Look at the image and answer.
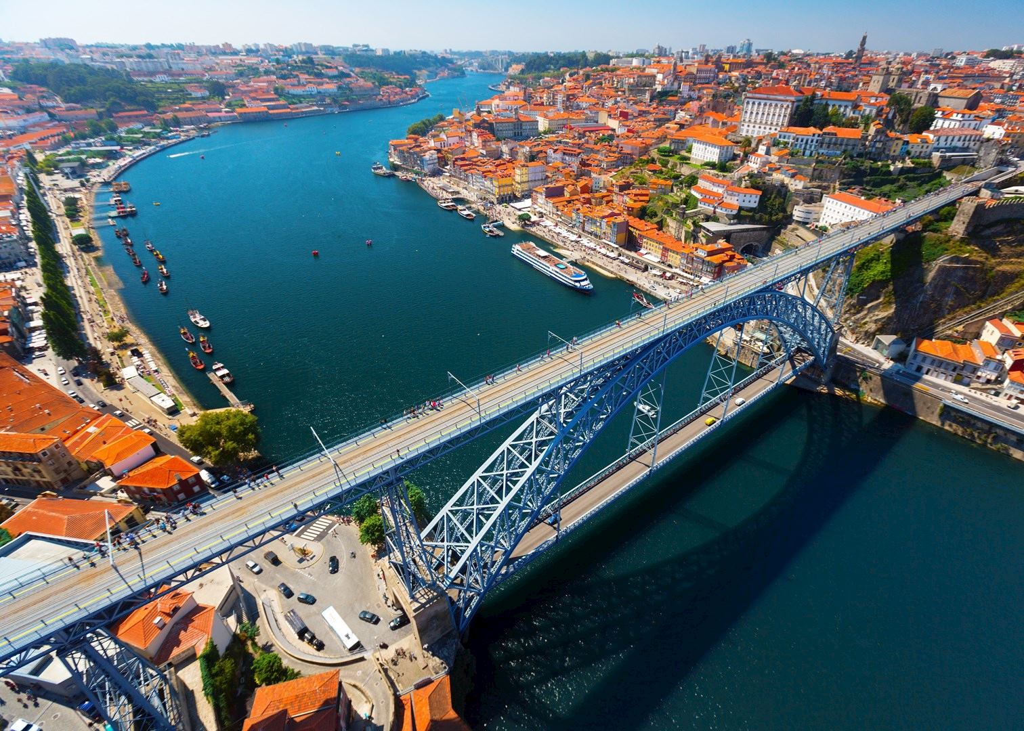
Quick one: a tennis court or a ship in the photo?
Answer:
ship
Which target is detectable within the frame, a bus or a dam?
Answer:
bus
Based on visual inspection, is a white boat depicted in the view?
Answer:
Yes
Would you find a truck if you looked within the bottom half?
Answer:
Yes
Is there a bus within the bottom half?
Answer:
Yes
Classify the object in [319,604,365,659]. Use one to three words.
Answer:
bus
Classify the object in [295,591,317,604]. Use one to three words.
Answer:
vehicle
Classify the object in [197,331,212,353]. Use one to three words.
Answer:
boat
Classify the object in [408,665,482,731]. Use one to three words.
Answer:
house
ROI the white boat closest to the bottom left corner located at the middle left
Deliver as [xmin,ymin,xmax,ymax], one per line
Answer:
[211,359,231,382]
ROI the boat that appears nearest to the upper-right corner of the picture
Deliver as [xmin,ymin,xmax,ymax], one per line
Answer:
[631,292,652,308]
